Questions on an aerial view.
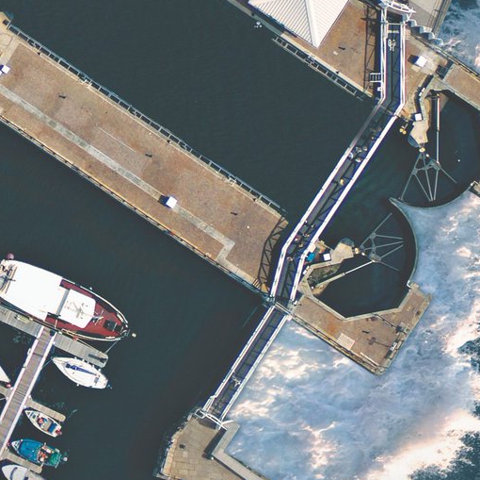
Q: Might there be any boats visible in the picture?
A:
Yes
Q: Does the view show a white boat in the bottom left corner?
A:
Yes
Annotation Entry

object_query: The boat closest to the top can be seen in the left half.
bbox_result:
[0,263,131,338]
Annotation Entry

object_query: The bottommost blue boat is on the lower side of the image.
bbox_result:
[10,438,63,472]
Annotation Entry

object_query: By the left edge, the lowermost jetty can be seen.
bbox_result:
[0,444,43,473]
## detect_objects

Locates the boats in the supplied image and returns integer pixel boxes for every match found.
[24,408,64,440]
[53,358,111,391]
[0,263,131,338]
[2,466,47,480]
[10,438,63,472]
